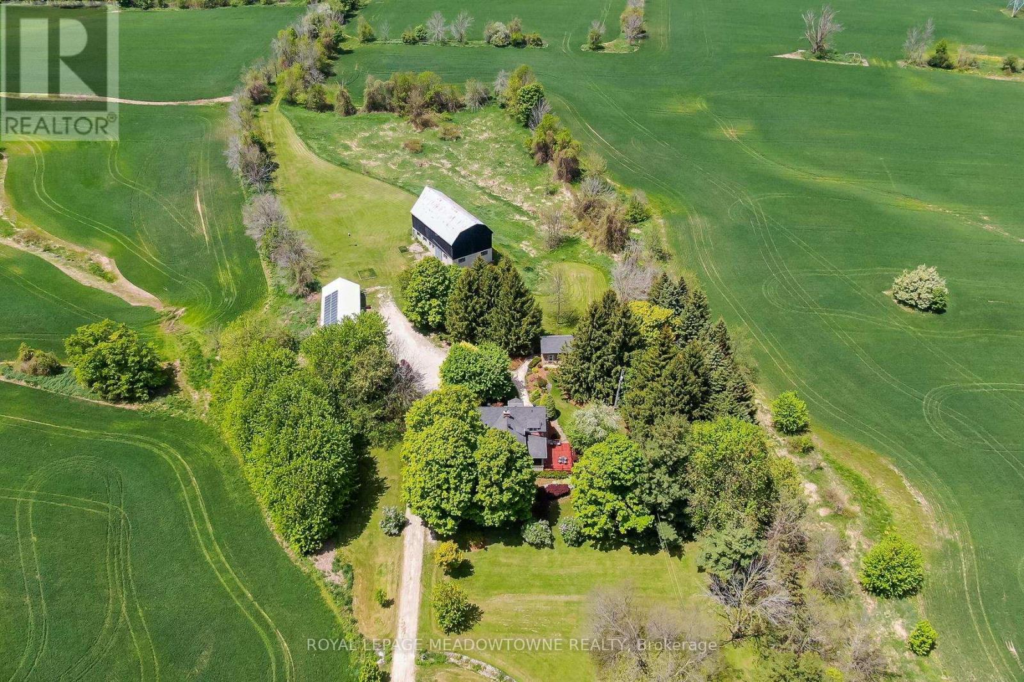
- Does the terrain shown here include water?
No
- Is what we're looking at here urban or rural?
rural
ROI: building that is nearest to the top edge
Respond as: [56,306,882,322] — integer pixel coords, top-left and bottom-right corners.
[408,190,492,267]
